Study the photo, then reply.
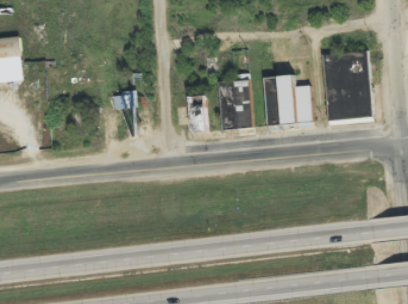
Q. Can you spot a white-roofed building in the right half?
Yes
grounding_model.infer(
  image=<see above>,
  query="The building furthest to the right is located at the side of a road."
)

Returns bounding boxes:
[322,50,374,124]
